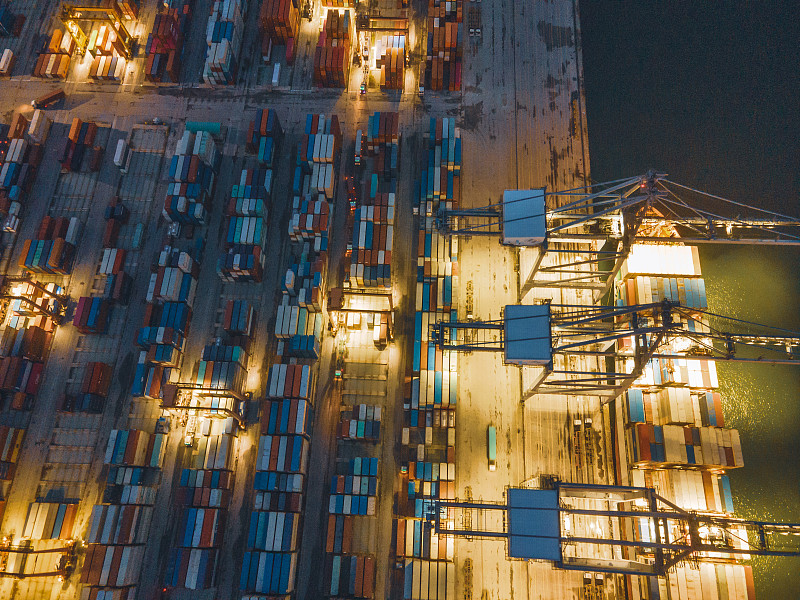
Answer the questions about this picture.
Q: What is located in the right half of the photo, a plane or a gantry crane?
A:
gantry crane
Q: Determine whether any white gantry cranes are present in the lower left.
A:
No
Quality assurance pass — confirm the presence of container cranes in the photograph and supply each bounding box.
[427,297,800,412]
[157,382,252,426]
[64,4,142,56]
[0,533,80,580]
[432,175,800,305]
[421,473,800,577]
[0,277,72,323]
[352,14,415,67]
[321,288,400,335]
